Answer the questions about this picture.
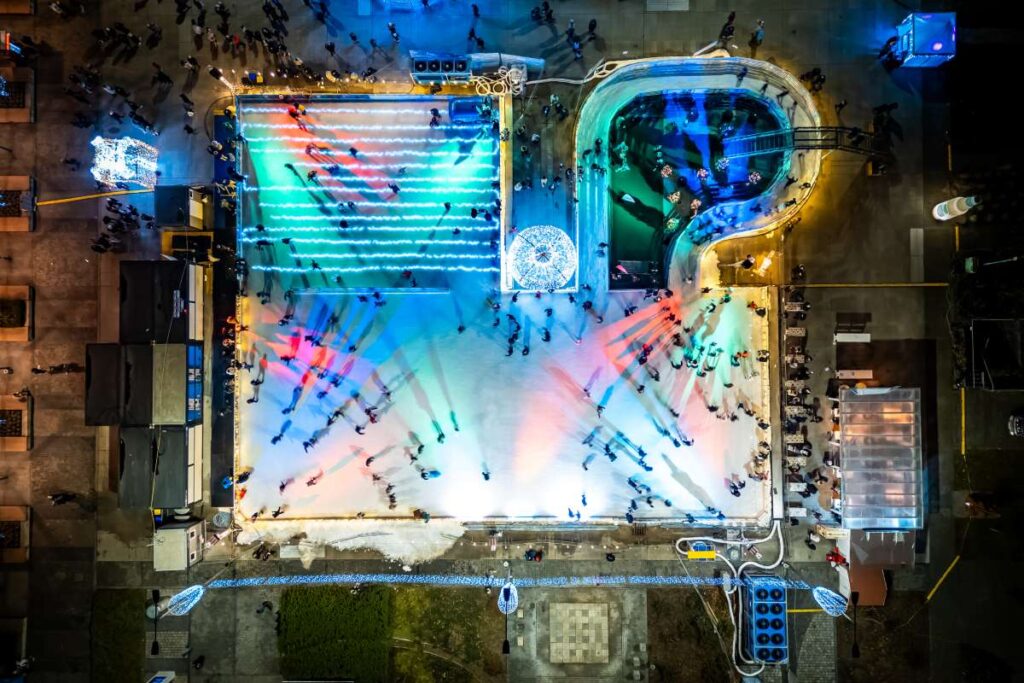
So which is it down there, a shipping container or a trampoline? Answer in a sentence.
Visible in the photo is a shipping container.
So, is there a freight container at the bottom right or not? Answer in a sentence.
No, there's no freight container to be seen at the bottom right.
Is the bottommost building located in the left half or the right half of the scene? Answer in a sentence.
The bottommost building is on the left side of the image.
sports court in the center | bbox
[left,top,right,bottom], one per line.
[241,71,813,517]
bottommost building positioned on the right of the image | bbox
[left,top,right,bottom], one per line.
[819,384,922,529]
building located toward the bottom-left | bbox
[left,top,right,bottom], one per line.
[147,517,208,571]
